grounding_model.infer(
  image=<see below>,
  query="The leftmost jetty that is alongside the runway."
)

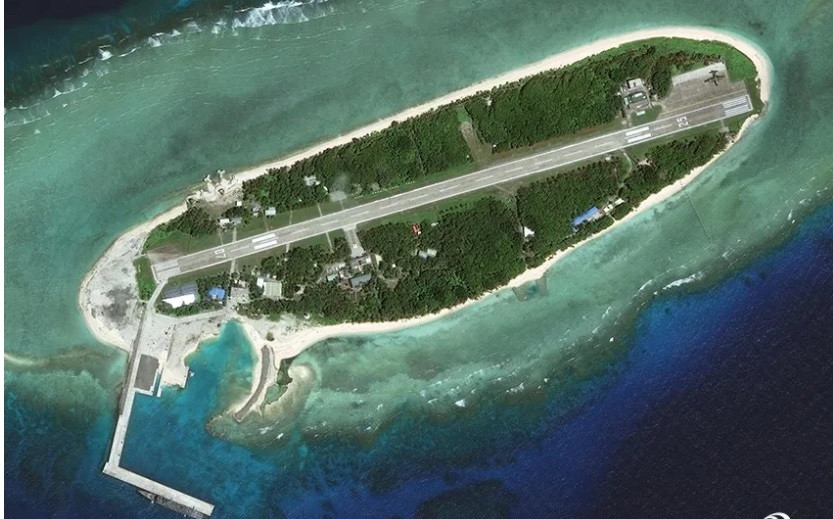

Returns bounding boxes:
[102,305,215,517]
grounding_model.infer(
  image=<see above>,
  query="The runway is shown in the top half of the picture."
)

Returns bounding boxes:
[152,94,752,282]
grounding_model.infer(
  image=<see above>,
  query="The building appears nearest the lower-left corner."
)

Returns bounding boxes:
[161,281,198,307]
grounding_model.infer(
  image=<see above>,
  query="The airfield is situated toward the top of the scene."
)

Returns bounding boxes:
[152,62,752,282]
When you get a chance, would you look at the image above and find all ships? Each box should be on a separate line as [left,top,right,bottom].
[136,490,210,519]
